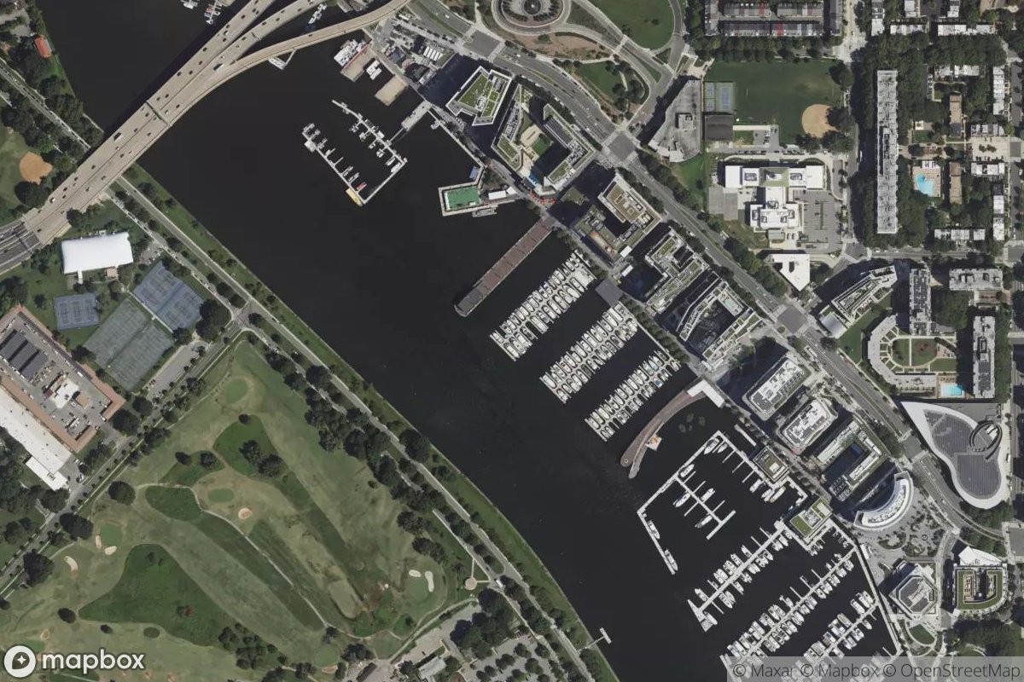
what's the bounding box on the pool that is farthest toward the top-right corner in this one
[912,167,940,197]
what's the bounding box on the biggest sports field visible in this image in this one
[703,53,846,145]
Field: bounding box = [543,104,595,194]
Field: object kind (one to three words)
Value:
building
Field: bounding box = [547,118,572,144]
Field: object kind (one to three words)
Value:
solar array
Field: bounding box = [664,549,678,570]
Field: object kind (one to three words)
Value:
boat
